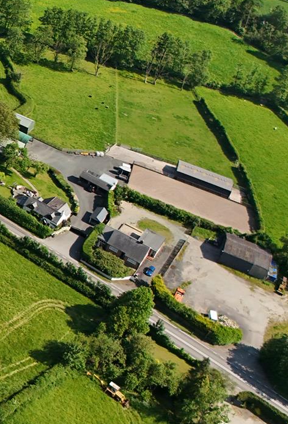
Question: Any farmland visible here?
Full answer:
Yes, there's farmland in this view.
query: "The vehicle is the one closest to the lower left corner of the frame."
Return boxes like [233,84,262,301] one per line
[93,371,132,407]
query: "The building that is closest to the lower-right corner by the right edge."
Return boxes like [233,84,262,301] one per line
[220,236,278,286]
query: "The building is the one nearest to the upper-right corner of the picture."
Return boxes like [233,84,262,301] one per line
[174,164,235,201]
